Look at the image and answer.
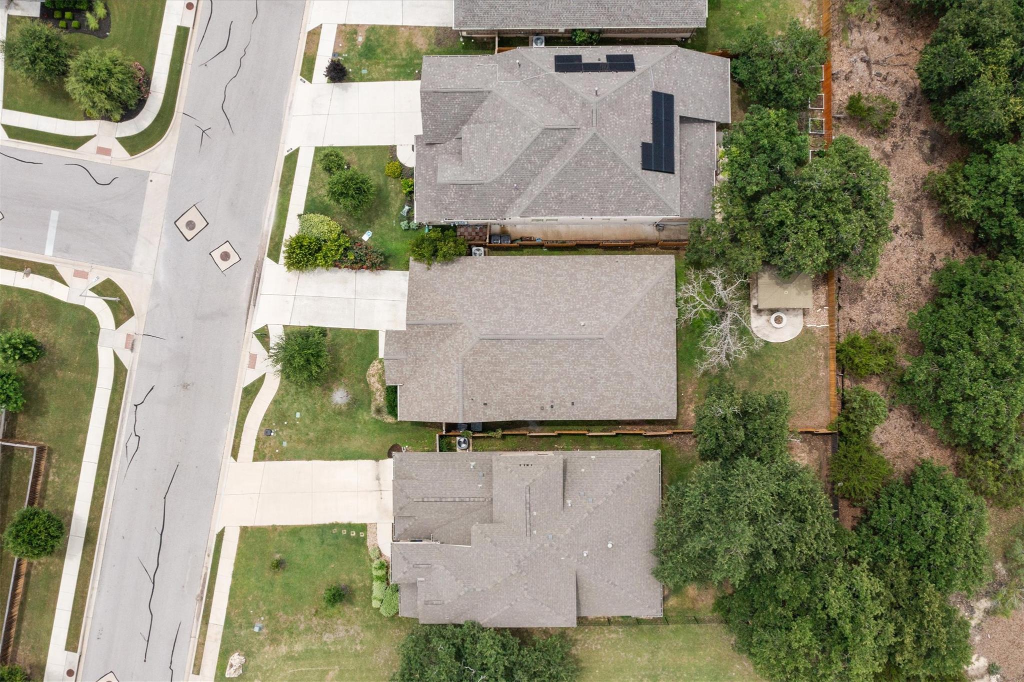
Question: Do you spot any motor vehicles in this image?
No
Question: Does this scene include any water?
No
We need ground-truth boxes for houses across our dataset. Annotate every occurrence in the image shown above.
[415,44,733,225]
[389,449,664,628]
[385,254,678,422]
[452,0,709,40]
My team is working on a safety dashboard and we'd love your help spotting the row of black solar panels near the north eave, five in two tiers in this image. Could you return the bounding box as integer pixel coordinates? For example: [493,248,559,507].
[555,54,636,73]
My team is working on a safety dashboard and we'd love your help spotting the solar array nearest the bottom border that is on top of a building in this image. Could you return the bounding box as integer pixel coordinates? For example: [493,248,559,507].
[641,90,674,172]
